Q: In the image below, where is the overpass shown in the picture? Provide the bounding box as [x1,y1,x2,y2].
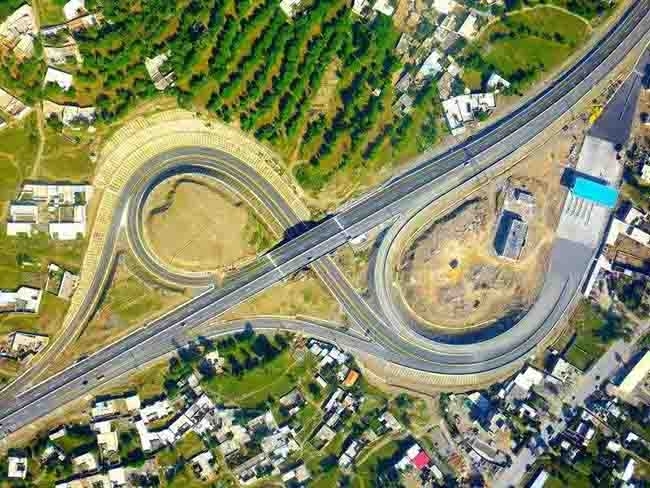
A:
[260,213,358,282]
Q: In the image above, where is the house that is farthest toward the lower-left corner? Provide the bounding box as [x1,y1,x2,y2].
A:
[7,455,30,477]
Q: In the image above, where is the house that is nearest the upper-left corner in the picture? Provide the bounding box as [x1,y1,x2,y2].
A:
[1,3,37,41]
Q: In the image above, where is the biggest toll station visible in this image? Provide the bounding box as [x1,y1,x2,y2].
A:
[556,136,621,249]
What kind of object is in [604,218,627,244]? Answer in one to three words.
house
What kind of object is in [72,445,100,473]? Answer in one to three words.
house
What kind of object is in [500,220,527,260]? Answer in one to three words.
building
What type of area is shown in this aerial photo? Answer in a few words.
residential area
